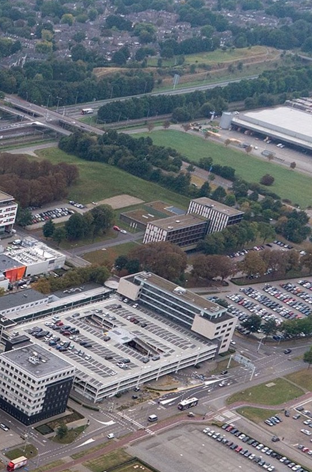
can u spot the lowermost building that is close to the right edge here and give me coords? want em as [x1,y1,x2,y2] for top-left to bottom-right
[234,100,312,159]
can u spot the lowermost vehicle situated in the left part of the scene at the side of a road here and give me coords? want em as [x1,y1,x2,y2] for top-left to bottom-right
[5,454,29,472]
